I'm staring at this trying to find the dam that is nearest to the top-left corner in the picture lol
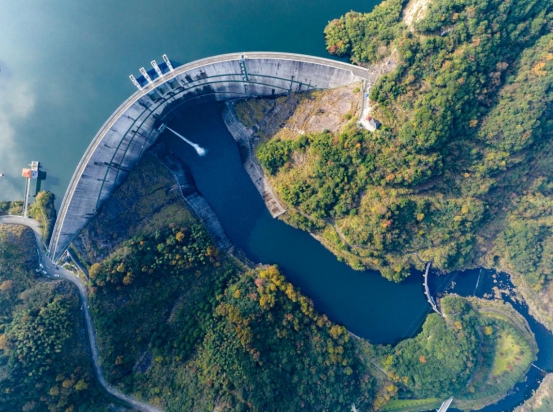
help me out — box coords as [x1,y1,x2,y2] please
[46,51,375,262]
